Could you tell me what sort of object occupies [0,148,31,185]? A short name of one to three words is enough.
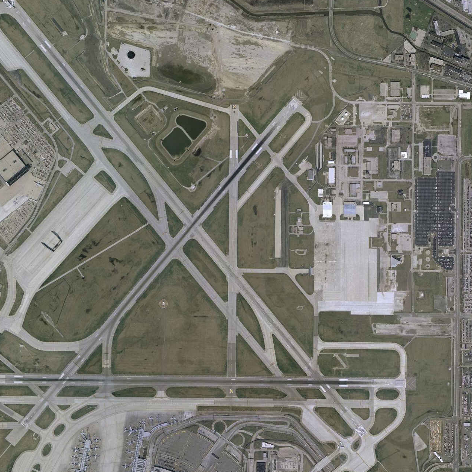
hangar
